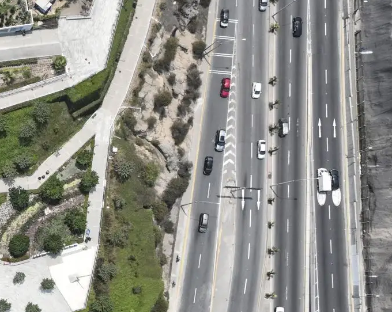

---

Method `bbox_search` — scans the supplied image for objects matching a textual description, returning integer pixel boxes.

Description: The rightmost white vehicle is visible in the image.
[317,168,335,192]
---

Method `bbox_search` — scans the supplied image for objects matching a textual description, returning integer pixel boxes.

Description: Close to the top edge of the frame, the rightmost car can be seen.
[291,14,304,36]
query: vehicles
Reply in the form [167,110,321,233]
[291,14,304,36]
[317,168,335,192]
[255,139,267,159]
[220,77,231,98]
[250,80,261,99]
[329,168,341,190]
[257,0,268,12]
[198,212,210,233]
[215,129,227,151]
[203,155,214,175]
[219,7,230,28]
[278,116,290,139]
